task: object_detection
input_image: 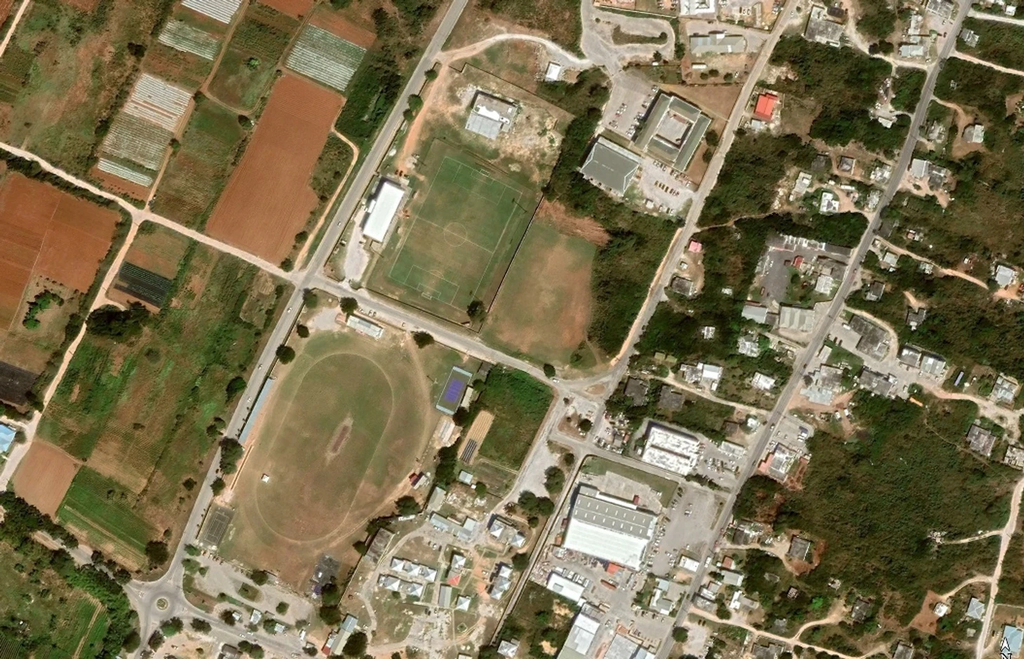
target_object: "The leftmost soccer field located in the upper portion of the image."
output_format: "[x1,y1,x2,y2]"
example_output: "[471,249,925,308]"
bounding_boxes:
[389,155,527,312]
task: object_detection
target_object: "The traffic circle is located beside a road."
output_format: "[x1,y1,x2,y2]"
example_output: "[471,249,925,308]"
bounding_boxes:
[123,559,205,647]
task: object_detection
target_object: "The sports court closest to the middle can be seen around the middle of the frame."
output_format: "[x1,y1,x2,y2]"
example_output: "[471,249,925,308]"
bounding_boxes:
[436,366,473,415]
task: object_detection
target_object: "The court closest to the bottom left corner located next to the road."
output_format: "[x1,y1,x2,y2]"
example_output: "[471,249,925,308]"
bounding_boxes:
[198,504,235,549]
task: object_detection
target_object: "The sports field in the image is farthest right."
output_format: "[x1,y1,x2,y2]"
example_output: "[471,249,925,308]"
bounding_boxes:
[484,197,596,354]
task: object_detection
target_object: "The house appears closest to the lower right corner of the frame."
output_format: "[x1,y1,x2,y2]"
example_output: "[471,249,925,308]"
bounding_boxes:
[1001,626,1023,652]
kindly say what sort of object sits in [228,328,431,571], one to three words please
sports field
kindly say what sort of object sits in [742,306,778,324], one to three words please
building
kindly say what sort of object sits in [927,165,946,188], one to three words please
house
